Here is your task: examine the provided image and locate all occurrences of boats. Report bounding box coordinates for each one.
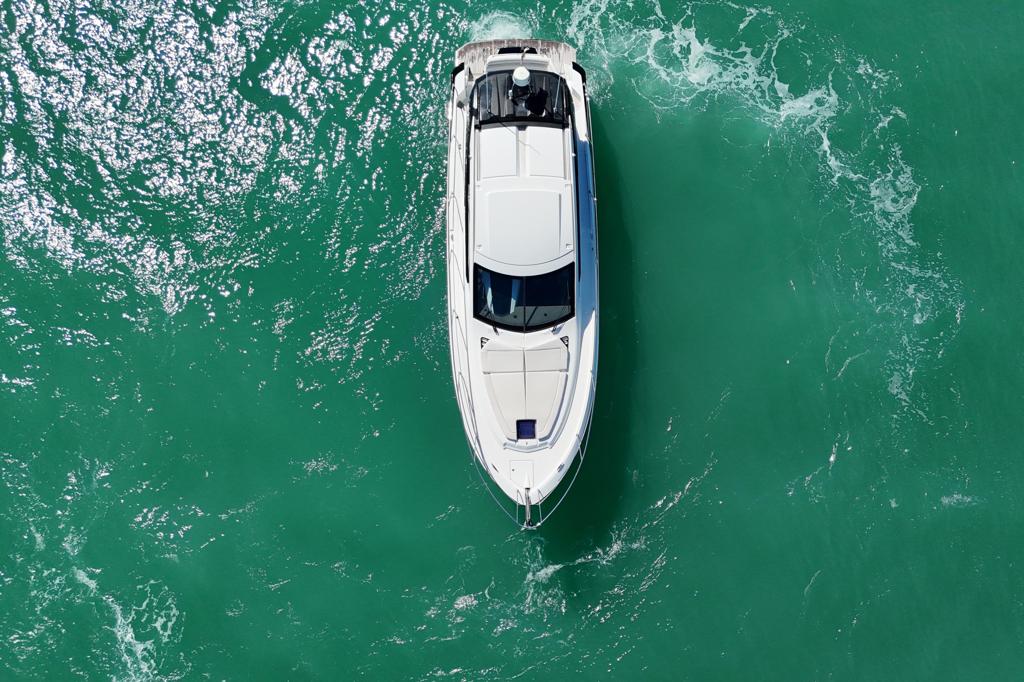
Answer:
[446,39,600,529]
